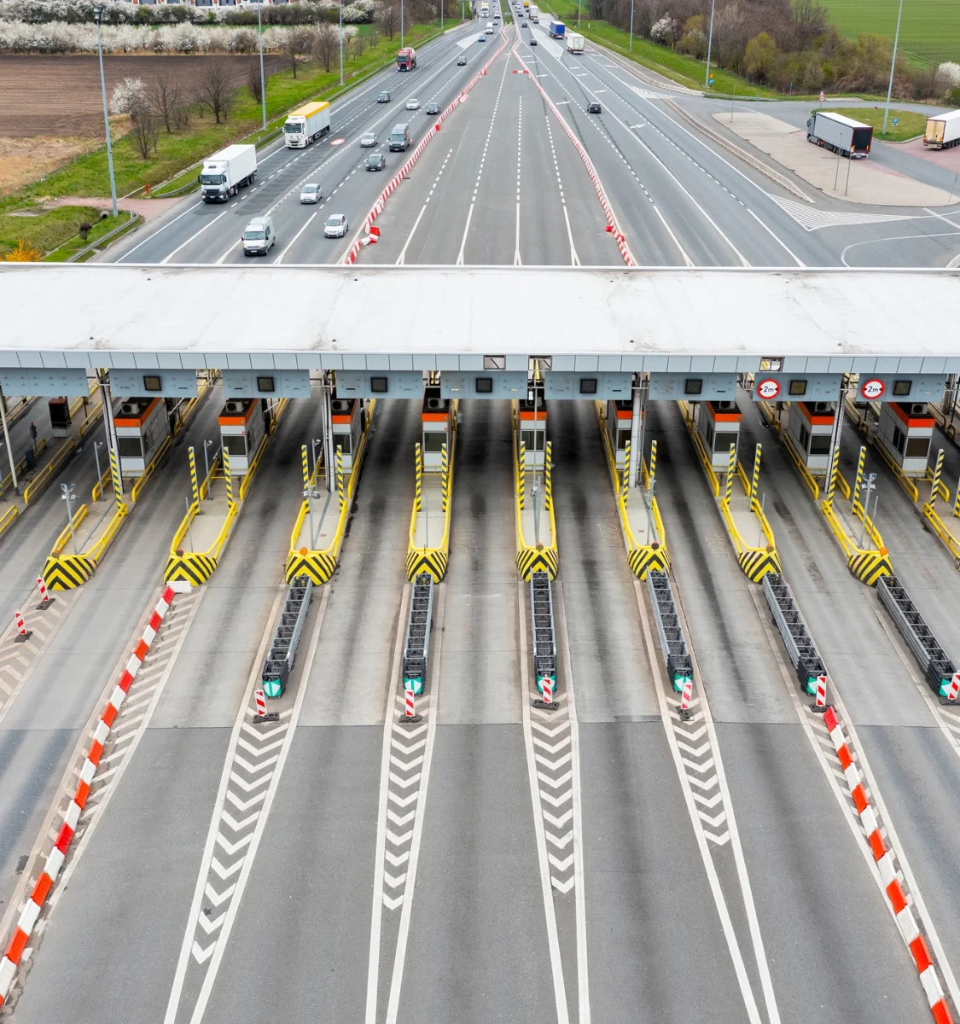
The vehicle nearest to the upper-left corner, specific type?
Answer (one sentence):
From above, the vehicle nearest to the upper-left corner can be identified as a truck.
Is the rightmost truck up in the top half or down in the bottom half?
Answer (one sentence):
It is in the top half that the rightmost truck appears.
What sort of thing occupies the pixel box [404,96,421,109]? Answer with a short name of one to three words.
vehicle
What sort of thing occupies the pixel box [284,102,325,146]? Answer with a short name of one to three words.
truck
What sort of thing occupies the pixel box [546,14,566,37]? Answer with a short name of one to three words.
vehicle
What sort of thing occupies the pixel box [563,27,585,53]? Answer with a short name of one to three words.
truck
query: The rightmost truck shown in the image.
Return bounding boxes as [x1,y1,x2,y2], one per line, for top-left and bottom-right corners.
[925,105,960,148]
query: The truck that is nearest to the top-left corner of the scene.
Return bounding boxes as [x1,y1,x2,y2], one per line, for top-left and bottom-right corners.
[198,148,248,200]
